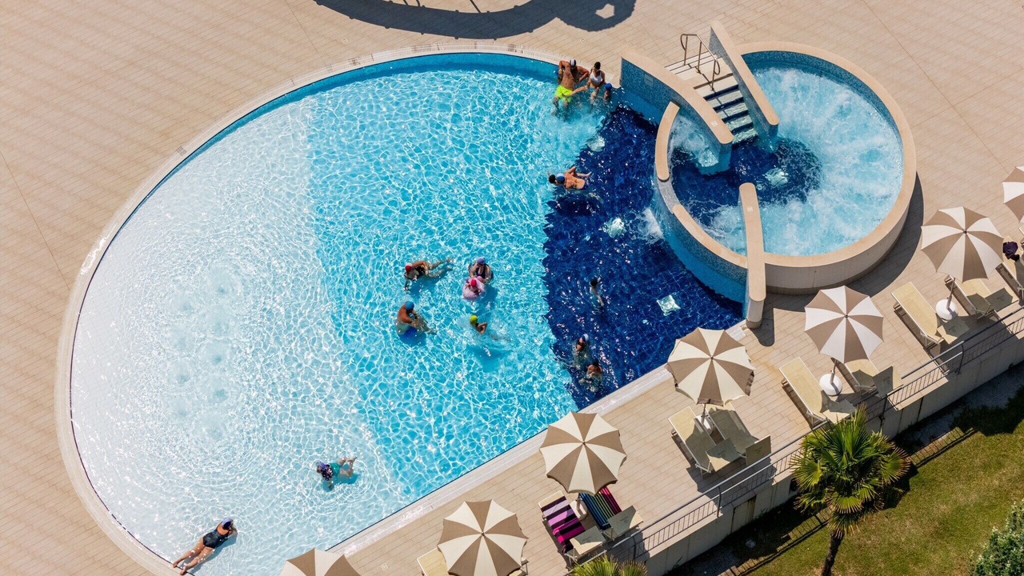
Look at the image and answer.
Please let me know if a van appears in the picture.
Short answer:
No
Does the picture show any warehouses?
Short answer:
No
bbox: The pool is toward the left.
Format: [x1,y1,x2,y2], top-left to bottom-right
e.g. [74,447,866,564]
[53,40,757,576]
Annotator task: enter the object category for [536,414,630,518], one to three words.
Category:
umbrella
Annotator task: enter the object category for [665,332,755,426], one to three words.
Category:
umbrella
